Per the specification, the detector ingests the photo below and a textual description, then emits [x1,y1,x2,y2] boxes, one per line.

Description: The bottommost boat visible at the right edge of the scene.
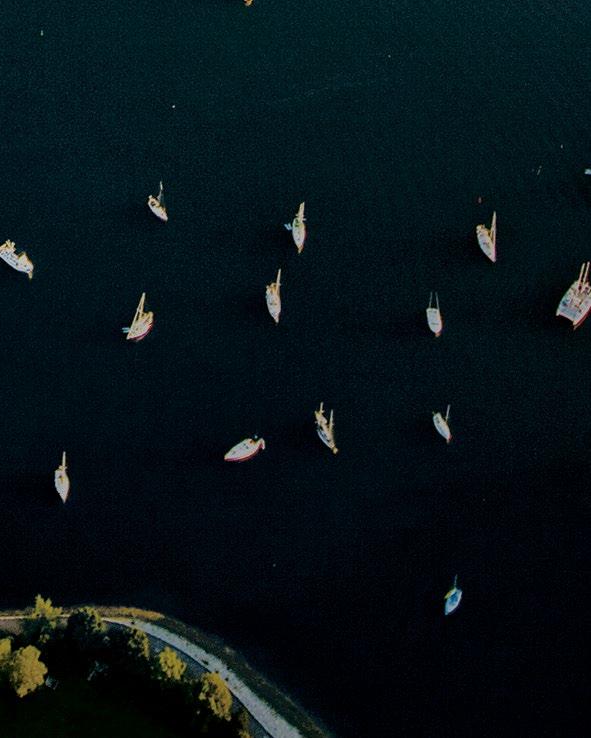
[558,262,591,325]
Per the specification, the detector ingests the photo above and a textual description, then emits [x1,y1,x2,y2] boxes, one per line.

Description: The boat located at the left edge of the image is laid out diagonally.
[0,239,34,279]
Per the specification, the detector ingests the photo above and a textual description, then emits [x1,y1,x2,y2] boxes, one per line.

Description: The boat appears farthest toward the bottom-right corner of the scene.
[445,577,463,616]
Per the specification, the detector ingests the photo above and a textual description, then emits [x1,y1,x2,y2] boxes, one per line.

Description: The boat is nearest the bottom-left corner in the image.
[54,451,69,504]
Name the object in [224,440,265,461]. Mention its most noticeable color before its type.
white boat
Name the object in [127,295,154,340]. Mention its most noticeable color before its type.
white boat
